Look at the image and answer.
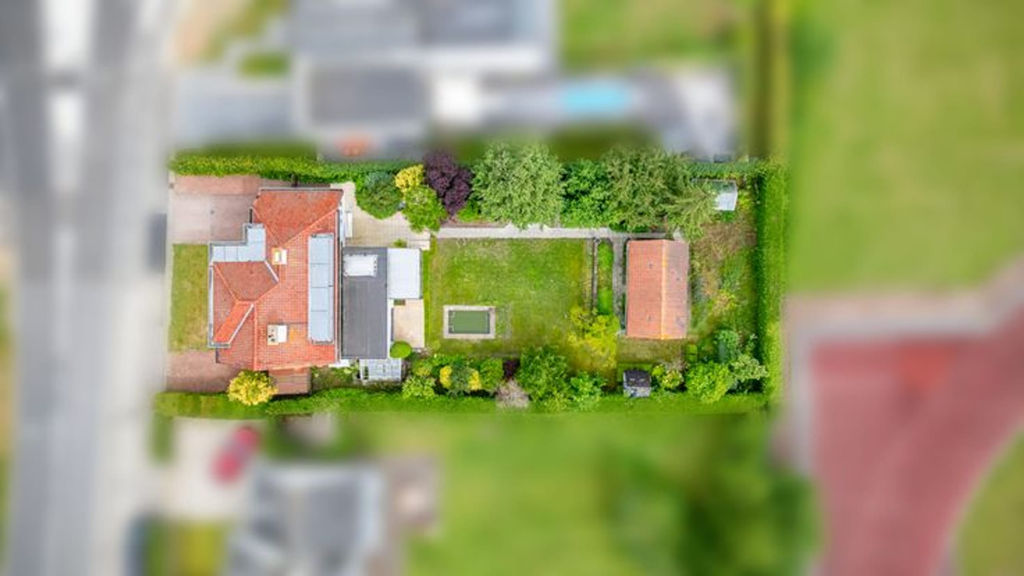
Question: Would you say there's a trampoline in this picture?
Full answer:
No, I can see no trampoline in this picture.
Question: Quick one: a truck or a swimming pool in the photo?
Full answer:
Looking from above, you can make out a swimming pool.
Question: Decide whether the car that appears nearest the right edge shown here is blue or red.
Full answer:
The car that appears nearest the right edge is red.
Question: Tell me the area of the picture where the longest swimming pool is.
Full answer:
You can find the longest swimming pool in the top area of the picture.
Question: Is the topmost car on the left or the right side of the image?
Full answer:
You can find the topmost car on the left side of the picture.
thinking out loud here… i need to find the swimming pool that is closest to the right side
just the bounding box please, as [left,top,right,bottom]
[558,78,639,117]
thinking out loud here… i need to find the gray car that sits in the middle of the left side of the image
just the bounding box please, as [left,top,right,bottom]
[141,216,171,271]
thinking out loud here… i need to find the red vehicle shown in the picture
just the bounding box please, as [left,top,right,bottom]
[214,426,261,482]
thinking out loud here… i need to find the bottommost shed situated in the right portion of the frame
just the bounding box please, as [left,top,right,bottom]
[622,370,653,398]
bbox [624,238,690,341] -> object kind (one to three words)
shed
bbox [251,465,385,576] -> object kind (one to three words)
house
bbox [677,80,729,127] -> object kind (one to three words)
building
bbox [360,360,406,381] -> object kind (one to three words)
greenhouse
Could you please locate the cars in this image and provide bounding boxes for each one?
[125,522,154,576]
[214,426,261,482]
[141,216,171,271]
